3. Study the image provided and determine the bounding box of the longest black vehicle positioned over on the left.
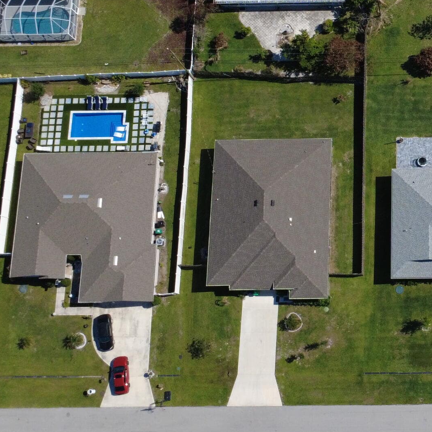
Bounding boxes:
[94,314,115,353]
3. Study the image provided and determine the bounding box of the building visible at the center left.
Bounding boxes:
[8,152,161,303]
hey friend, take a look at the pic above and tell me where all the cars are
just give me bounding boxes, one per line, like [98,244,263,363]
[109,356,130,396]
[94,314,115,353]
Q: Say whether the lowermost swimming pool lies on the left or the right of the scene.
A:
left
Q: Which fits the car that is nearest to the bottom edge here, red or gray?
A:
red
